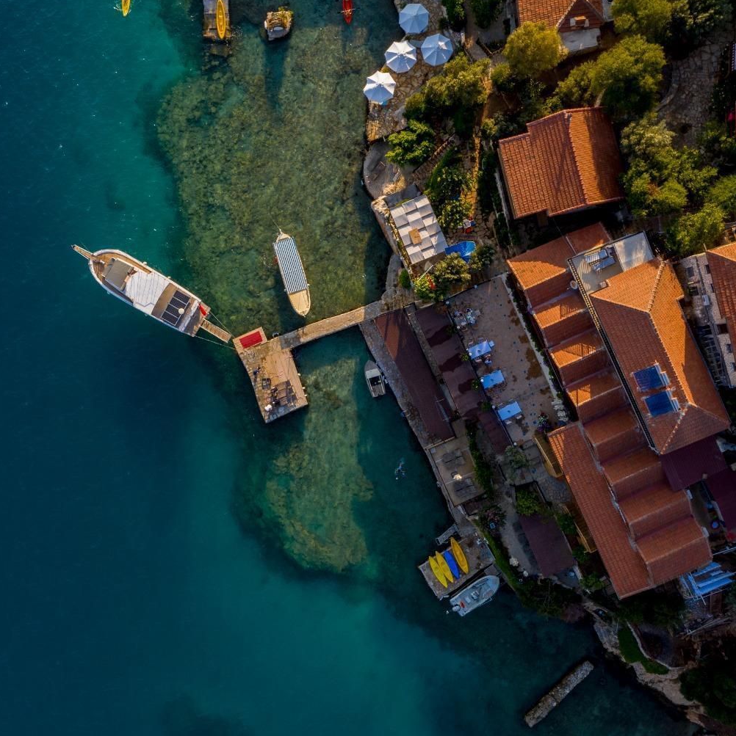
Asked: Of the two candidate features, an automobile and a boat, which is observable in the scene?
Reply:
boat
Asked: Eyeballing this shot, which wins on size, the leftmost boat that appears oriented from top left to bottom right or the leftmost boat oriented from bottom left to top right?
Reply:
the leftmost boat that appears oriented from top left to bottom right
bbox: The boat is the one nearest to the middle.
[365,361,387,400]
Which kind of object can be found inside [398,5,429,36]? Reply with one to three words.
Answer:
umbrella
